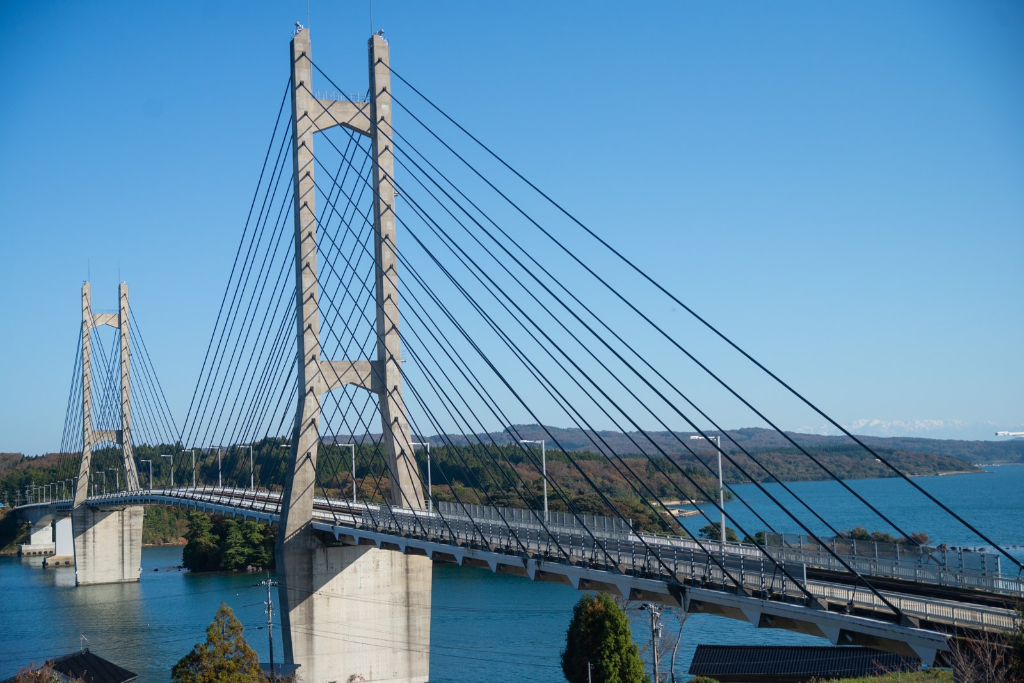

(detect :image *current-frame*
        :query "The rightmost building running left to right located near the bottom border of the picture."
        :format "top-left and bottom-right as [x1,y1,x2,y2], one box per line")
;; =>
[681,641,929,683]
